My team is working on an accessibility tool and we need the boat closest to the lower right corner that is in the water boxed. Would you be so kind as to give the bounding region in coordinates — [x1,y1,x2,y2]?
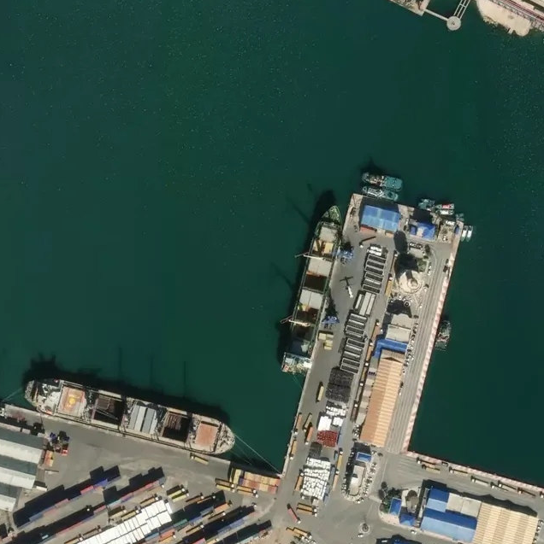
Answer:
[434,321,451,352]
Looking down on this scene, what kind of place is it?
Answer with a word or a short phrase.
port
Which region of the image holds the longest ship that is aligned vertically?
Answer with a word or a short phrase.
center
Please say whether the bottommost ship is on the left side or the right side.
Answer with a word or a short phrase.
left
